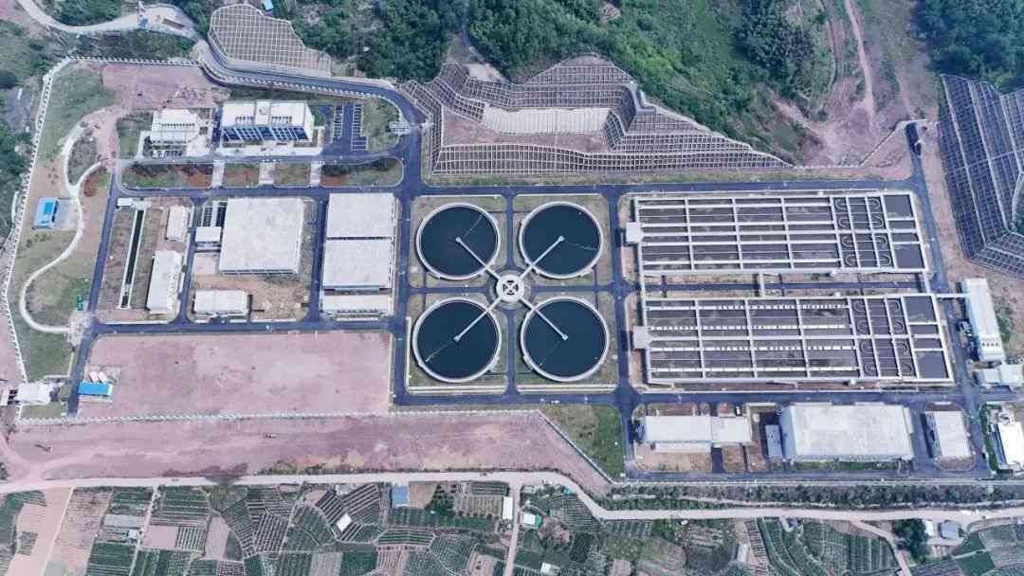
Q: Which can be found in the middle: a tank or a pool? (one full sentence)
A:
It is a tank that can be seen in the middle.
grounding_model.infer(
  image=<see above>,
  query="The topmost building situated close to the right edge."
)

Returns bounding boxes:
[956,279,1007,363]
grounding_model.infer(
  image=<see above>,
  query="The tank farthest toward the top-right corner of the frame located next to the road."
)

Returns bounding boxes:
[519,201,603,280]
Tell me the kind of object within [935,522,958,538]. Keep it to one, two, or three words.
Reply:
house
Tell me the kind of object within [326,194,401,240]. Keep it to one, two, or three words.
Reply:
building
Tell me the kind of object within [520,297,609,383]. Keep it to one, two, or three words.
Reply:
storage tank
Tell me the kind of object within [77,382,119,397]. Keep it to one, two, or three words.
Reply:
shed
